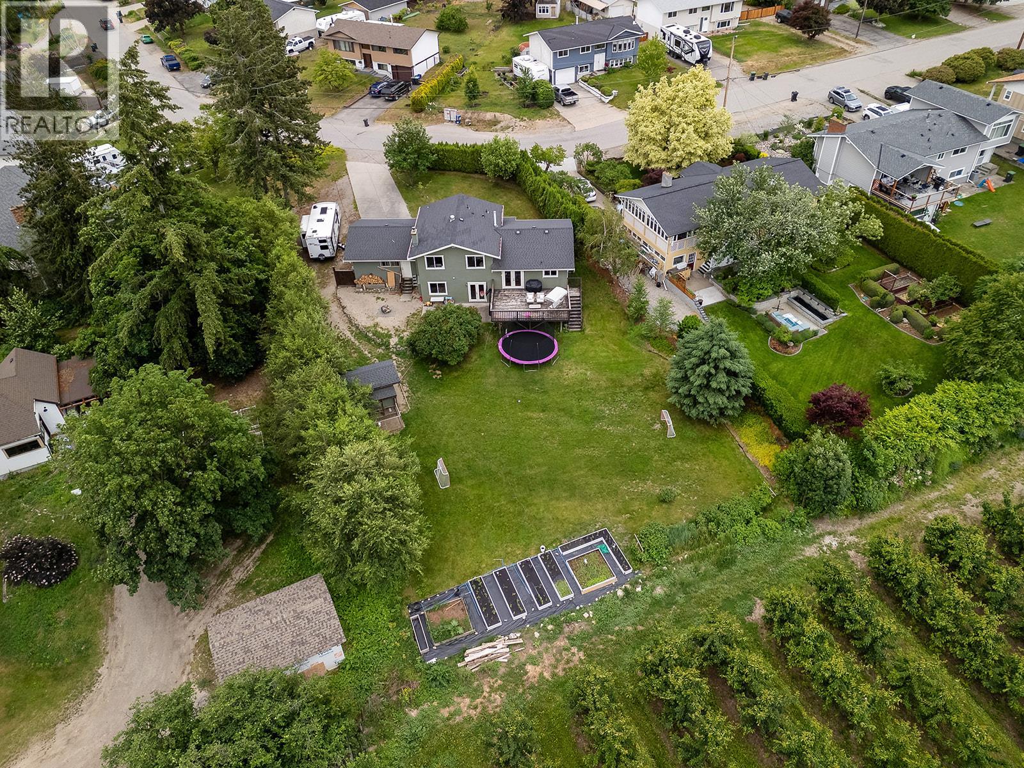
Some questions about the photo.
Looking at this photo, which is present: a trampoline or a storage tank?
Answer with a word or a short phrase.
trampoline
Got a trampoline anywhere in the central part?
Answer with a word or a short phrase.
Yes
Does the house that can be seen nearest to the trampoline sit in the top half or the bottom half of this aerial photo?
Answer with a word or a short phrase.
top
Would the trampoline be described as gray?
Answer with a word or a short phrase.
No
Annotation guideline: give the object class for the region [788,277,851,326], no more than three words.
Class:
pond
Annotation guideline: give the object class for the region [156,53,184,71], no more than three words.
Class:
vehicle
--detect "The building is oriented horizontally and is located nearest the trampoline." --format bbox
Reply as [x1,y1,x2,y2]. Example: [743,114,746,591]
[343,190,575,302]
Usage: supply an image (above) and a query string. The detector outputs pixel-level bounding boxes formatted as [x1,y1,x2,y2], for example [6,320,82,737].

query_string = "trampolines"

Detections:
[499,328,558,371]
